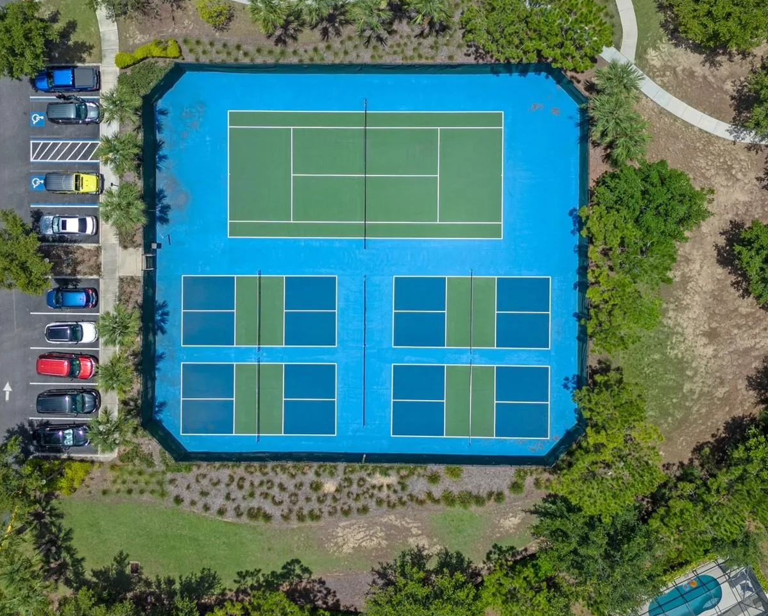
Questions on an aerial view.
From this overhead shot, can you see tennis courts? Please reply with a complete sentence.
Yes, the frame does contain a tennis court.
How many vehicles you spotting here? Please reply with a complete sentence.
In total, 9 vehicles can be seen.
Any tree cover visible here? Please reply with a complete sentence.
Yes, there's tree cover in this view.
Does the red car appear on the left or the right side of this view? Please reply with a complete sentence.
The red car appears in the left half of the scene.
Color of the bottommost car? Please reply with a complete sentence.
The bottommost car looks black in the image.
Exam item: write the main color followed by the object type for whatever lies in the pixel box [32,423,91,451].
black car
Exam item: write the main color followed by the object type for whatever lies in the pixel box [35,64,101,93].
blue truck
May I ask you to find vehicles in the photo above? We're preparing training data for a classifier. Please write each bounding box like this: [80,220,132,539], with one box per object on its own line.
[47,284,100,312]
[38,169,102,195]
[42,319,99,347]
[41,212,98,238]
[35,64,101,93]
[32,423,91,451]
[36,353,100,381]
[44,94,103,126]
[35,389,101,416]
